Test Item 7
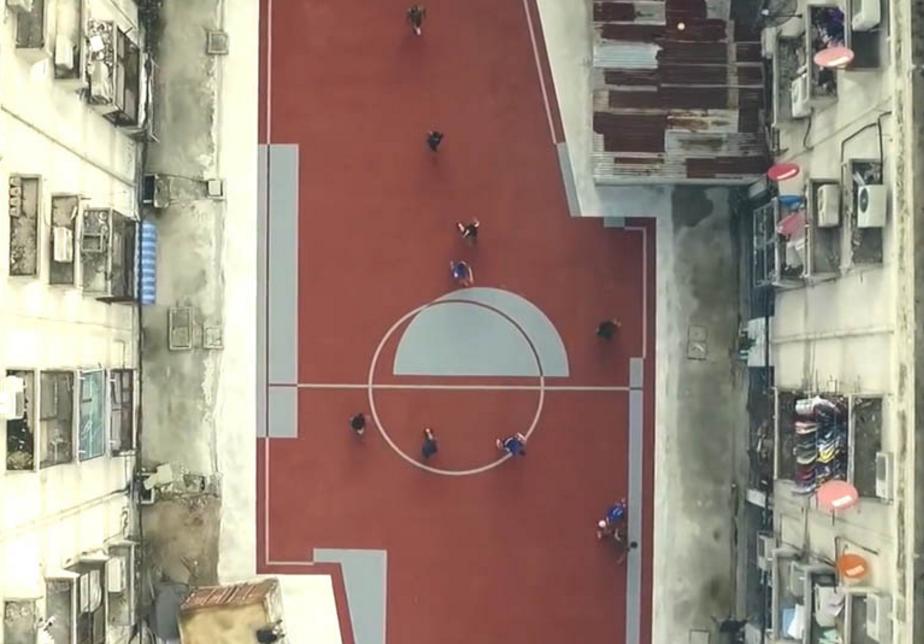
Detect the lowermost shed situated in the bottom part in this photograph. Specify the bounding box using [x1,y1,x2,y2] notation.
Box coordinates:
[181,575,294,644]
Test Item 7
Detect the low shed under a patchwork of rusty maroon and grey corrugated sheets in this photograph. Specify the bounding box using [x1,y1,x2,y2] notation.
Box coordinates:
[587,0,774,192]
